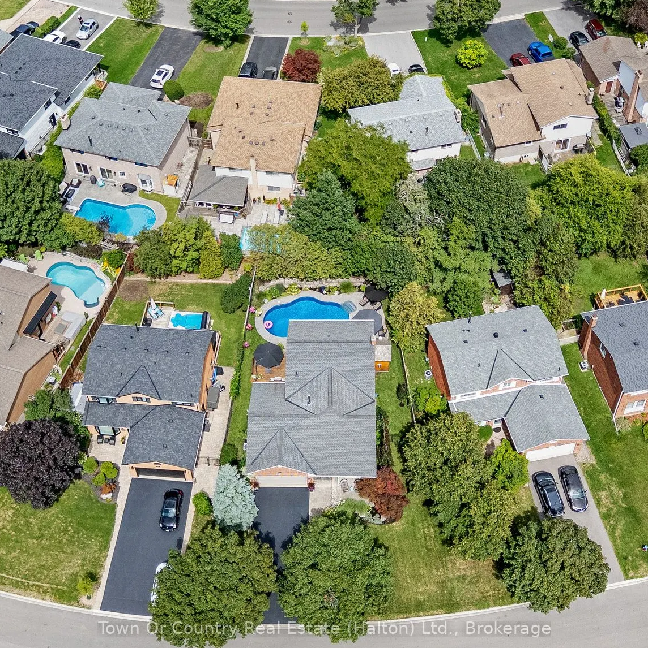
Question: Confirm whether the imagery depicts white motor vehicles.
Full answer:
Yes, this view includes a white motor vehicle.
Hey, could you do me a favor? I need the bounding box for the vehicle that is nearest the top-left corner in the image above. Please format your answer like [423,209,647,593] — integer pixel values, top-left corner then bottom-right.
[8,18,40,35]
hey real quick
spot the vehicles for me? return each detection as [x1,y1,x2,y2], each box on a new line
[8,18,40,35]
[509,52,530,64]
[239,59,257,77]
[408,64,425,77]
[558,468,587,511]
[526,39,561,58]
[566,31,587,55]
[386,61,405,81]
[159,490,186,531]
[530,474,566,515]
[261,62,279,80]
[76,17,101,39]
[64,38,87,50]
[582,12,607,39]
[148,65,178,87]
